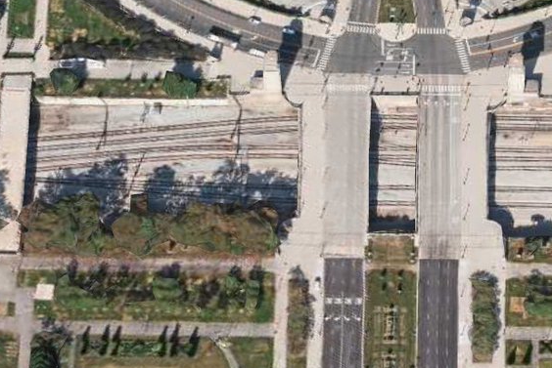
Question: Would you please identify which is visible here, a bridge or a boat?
bridge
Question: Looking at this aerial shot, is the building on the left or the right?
left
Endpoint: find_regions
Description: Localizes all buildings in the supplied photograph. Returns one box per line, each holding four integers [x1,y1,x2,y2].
[34,284,54,305]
